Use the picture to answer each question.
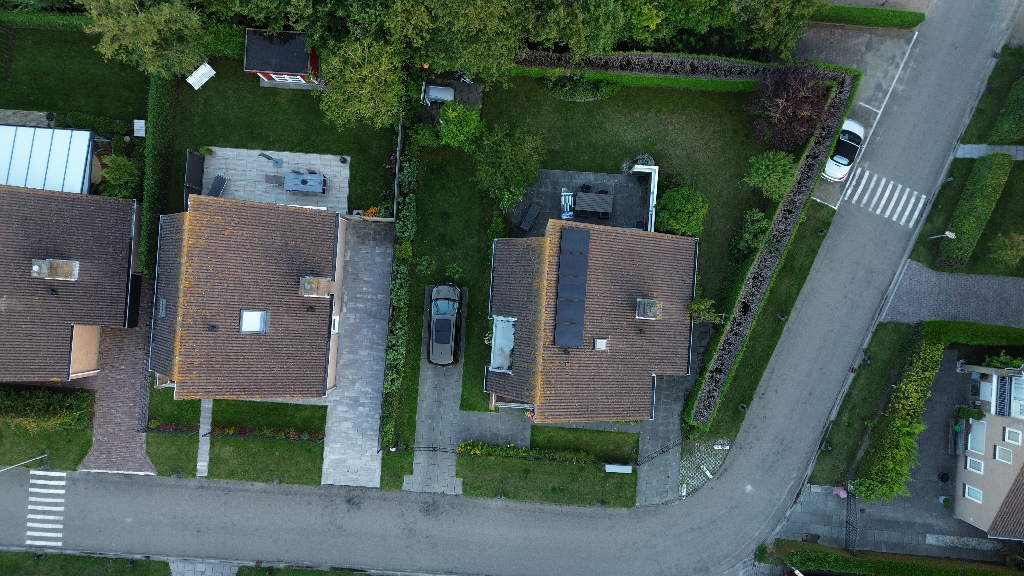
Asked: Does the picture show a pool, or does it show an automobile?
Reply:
automobile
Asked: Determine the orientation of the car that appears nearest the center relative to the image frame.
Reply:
up and down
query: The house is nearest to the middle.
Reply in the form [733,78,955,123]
[482,219,701,423]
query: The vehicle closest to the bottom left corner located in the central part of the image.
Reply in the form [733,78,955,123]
[424,283,465,367]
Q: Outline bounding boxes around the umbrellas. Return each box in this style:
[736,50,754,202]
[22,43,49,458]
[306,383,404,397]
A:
[260,153,282,167]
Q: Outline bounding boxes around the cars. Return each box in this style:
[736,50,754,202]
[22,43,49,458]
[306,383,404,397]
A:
[424,283,465,367]
[820,118,867,186]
